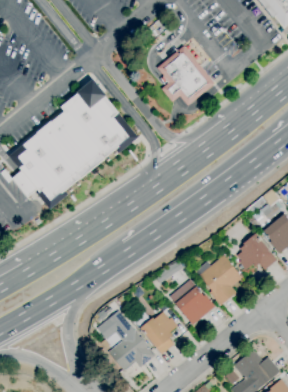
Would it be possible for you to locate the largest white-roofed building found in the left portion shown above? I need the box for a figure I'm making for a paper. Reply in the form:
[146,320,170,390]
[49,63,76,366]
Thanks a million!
[4,76,138,208]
